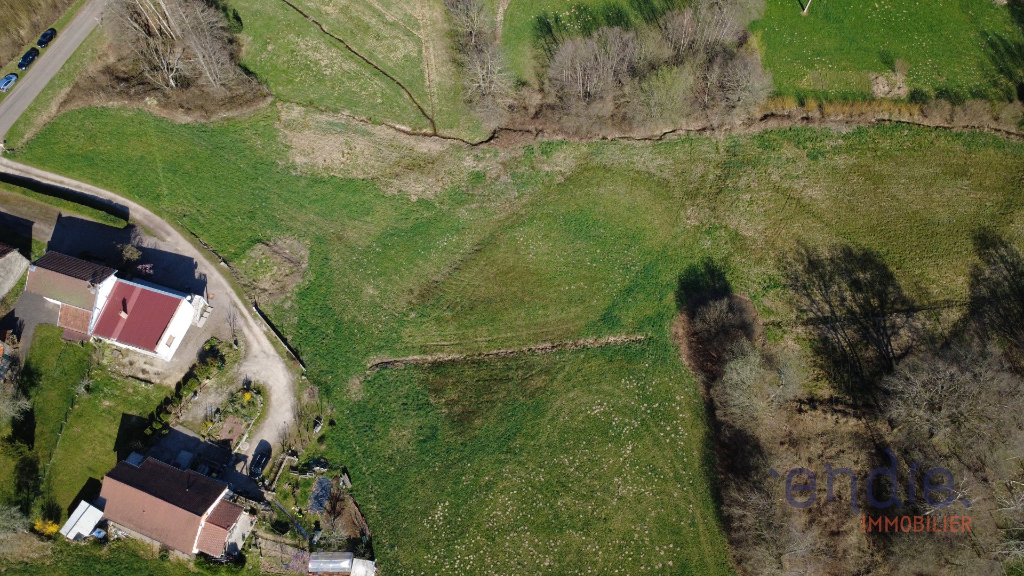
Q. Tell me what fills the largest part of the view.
grass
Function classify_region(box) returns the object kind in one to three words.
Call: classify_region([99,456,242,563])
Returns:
house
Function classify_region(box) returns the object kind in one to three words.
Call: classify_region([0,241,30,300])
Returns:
barn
